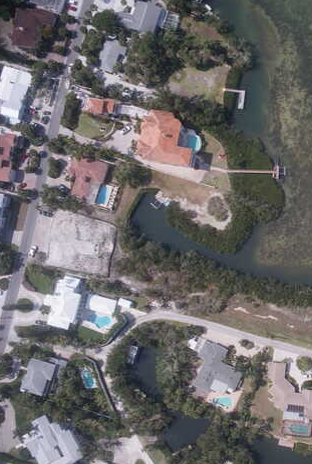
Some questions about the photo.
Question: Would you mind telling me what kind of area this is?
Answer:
residential area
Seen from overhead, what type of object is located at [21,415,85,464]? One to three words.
house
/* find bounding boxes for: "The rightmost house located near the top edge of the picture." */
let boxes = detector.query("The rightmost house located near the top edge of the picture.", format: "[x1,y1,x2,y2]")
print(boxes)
[116,2,162,33]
